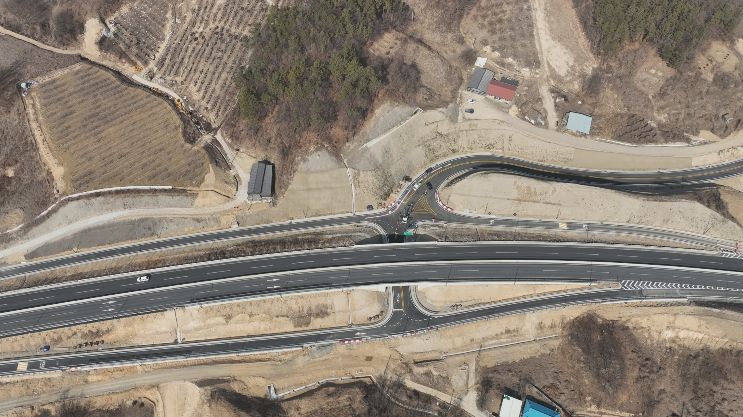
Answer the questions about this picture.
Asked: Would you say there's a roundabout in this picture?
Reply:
No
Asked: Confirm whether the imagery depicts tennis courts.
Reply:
No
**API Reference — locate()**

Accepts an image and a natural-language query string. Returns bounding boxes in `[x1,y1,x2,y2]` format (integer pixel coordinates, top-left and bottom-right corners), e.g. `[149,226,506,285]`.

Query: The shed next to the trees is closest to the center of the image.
[247,162,274,202]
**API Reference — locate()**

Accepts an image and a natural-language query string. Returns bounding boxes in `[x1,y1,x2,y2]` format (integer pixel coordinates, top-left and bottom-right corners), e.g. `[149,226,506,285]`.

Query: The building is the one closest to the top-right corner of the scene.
[565,112,591,137]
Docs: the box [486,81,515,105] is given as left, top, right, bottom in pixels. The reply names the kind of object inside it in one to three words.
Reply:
house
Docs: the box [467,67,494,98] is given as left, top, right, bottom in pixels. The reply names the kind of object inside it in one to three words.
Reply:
house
